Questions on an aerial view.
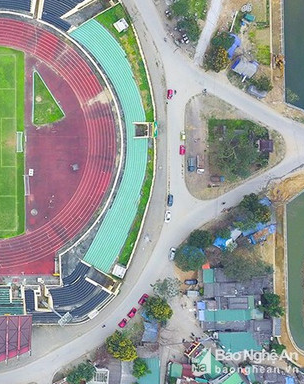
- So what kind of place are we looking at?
sports ground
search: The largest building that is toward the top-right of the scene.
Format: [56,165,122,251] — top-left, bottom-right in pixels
[230,55,256,78]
